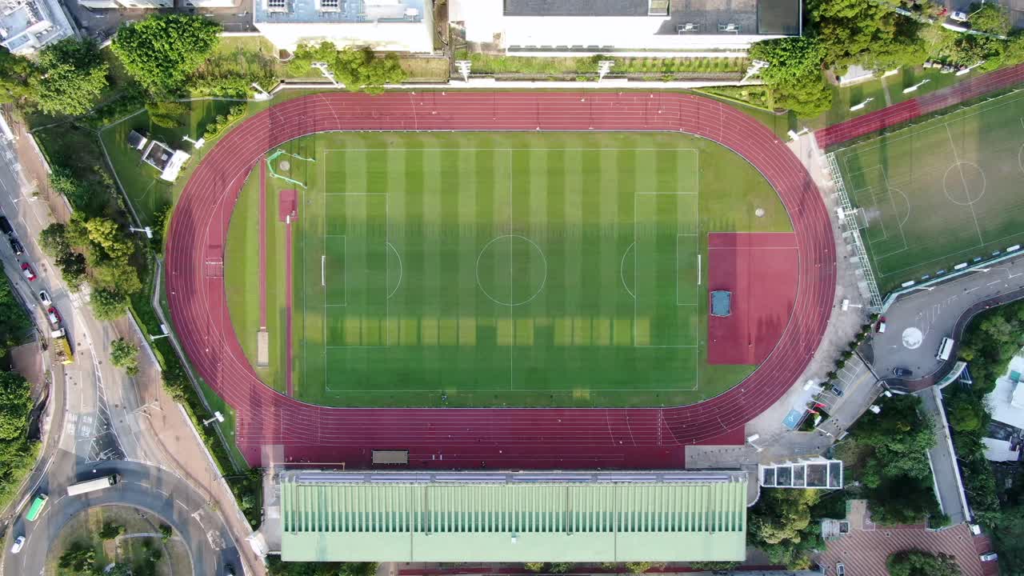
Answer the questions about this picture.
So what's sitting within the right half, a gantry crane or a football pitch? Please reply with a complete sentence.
There is a football pitch within the right half.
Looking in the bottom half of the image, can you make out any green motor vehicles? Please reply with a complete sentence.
Yes, a green motor vehicle is visible in the bottom half of the image.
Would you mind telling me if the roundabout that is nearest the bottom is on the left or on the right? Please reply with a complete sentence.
The roundabout that is nearest the bottom appears in the left half of the scene.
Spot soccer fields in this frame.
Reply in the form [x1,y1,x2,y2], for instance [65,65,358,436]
[304,140,706,398]
[825,87,1024,291]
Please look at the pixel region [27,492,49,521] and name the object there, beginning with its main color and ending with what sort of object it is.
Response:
green vehicle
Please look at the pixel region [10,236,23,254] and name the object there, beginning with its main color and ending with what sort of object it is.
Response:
black vehicle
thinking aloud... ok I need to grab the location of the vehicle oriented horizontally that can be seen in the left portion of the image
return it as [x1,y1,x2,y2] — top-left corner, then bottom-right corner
[66,475,119,495]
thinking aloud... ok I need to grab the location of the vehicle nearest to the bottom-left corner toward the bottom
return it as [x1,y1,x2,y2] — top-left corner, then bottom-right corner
[13,536,25,552]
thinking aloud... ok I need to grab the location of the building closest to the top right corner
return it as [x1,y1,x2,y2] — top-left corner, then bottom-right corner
[836,60,877,85]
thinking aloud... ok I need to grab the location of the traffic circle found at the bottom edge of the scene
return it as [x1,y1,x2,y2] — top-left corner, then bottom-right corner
[1,461,239,576]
